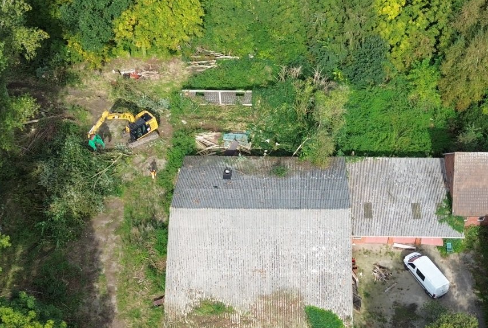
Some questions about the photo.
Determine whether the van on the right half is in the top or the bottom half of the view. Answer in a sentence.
The van on the right half sits in the bottom half of the picture.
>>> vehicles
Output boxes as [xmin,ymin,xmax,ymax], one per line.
[402,254,452,299]
[92,112,161,161]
